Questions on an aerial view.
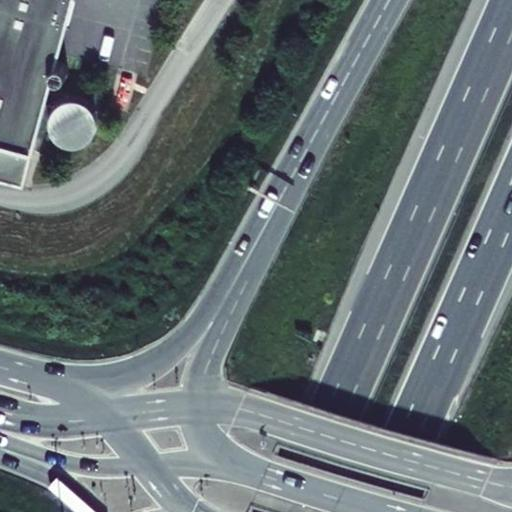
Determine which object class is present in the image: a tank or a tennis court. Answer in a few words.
tank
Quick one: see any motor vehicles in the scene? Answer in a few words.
Yes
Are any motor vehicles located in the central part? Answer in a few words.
Yes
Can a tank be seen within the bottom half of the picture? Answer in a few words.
No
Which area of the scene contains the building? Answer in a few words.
top left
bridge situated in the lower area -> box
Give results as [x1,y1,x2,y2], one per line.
[218,380,512,512]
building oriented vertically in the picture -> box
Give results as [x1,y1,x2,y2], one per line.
[0,0,76,190]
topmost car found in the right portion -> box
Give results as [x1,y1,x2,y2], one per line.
[321,78,338,98]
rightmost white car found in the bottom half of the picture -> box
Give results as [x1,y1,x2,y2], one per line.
[431,314,448,339]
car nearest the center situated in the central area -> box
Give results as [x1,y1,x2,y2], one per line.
[235,234,251,255]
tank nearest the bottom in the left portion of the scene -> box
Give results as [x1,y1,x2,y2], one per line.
[48,98,100,150]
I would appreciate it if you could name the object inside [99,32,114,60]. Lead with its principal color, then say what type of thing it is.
white vehicle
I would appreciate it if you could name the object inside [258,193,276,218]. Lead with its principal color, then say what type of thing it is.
white car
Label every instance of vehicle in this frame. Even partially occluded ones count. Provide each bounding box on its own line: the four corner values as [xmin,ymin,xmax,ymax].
[0,437,6,446]
[321,78,338,98]
[114,72,131,106]
[297,154,315,176]
[235,234,251,255]
[79,460,100,471]
[20,422,41,433]
[45,364,66,374]
[46,454,66,466]
[502,192,512,214]
[288,136,305,157]
[99,32,114,60]
[0,396,18,408]
[258,193,276,218]
[465,232,482,256]
[431,314,448,339]
[0,455,20,467]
